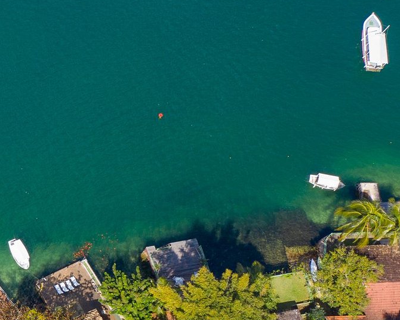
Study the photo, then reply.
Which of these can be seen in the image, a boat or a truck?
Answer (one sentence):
The one in the frame is a boat.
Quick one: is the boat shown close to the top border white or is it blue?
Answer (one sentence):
From above, the boat shown close to the top border appears white.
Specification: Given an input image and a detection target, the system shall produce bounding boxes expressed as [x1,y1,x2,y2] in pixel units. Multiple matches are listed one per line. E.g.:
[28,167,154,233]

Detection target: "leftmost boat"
[8,237,28,268]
